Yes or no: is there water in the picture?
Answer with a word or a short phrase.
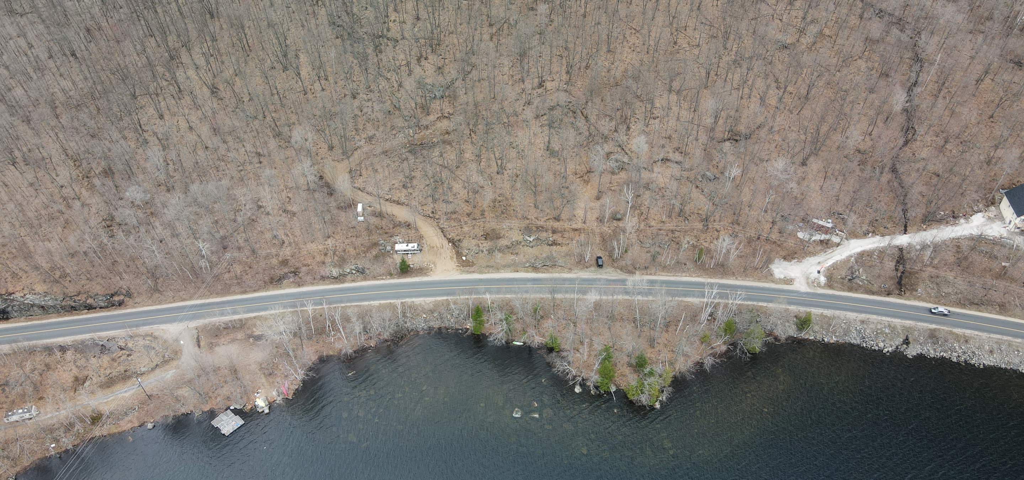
Yes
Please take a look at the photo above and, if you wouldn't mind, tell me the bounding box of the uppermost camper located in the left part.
[393,244,421,256]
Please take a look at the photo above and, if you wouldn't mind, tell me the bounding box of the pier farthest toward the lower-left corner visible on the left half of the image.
[211,410,245,437]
